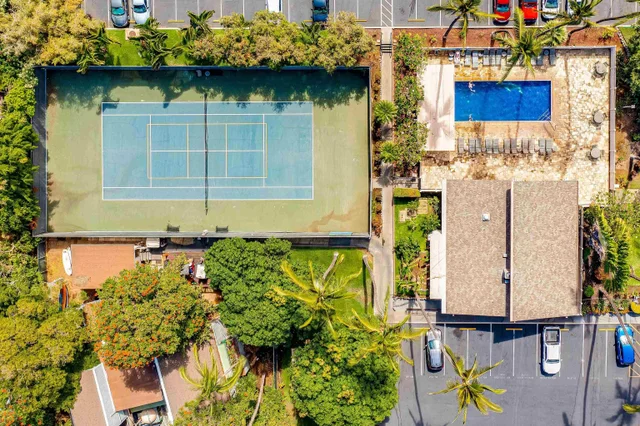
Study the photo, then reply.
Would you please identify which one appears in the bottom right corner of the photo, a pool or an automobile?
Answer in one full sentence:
It is an automobile that can be seen in the bottom right corner of the photo.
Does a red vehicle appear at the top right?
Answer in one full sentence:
Yes, looking at the top right, one can make out a red vehicle.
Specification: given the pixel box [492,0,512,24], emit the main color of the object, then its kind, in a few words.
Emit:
red car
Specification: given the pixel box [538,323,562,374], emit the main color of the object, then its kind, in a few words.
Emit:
white truck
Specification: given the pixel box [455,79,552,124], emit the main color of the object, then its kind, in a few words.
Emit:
blue swimming pool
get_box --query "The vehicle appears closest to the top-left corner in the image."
[109,0,131,30]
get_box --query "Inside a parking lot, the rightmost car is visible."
[610,324,634,367]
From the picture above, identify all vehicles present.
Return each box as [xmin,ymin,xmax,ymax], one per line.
[139,402,160,426]
[539,0,561,19]
[424,329,442,372]
[109,0,131,30]
[131,0,151,26]
[610,324,634,367]
[310,0,329,24]
[538,323,562,374]
[518,0,540,23]
[492,0,512,24]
